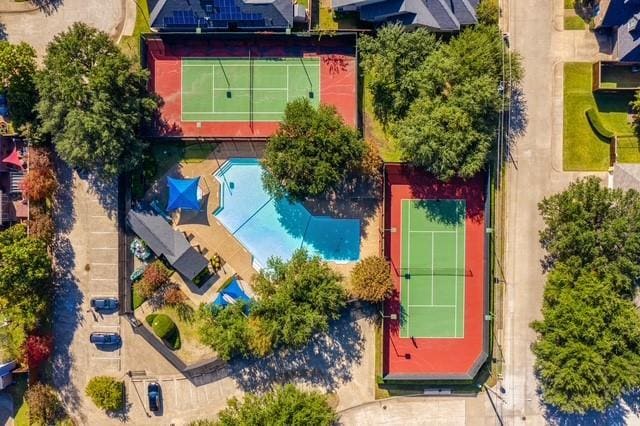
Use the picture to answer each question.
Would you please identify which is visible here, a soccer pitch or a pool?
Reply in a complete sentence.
Of the two, only a pool appears.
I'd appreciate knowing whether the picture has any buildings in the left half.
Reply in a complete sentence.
Yes, there is a building in the left half.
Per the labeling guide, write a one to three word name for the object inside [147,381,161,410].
car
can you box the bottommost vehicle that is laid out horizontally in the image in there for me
[91,332,122,345]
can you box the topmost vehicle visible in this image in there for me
[91,297,119,310]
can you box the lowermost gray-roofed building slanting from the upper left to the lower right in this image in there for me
[128,201,209,281]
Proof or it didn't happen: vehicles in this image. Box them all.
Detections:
[91,297,119,310]
[147,381,161,410]
[91,332,122,345]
